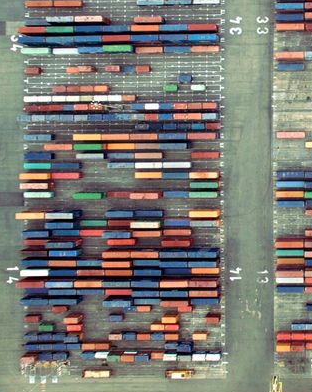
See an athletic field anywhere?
No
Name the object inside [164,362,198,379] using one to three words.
work vehicle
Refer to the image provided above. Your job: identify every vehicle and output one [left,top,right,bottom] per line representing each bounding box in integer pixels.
[84,362,119,379]
[164,362,198,379]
